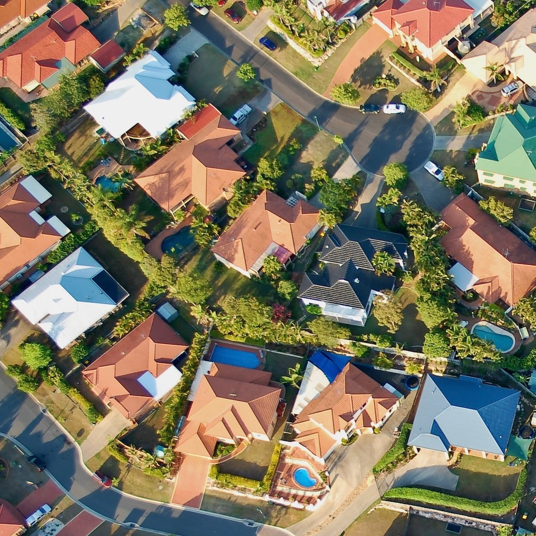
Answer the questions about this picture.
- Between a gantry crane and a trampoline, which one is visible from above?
trampoline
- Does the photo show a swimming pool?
Yes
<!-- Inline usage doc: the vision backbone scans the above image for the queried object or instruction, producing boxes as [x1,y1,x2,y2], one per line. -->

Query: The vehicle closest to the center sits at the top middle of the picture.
[229,103,251,123]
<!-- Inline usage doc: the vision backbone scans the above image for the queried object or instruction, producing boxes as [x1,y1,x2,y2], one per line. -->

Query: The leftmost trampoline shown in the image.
[403,375,421,392]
